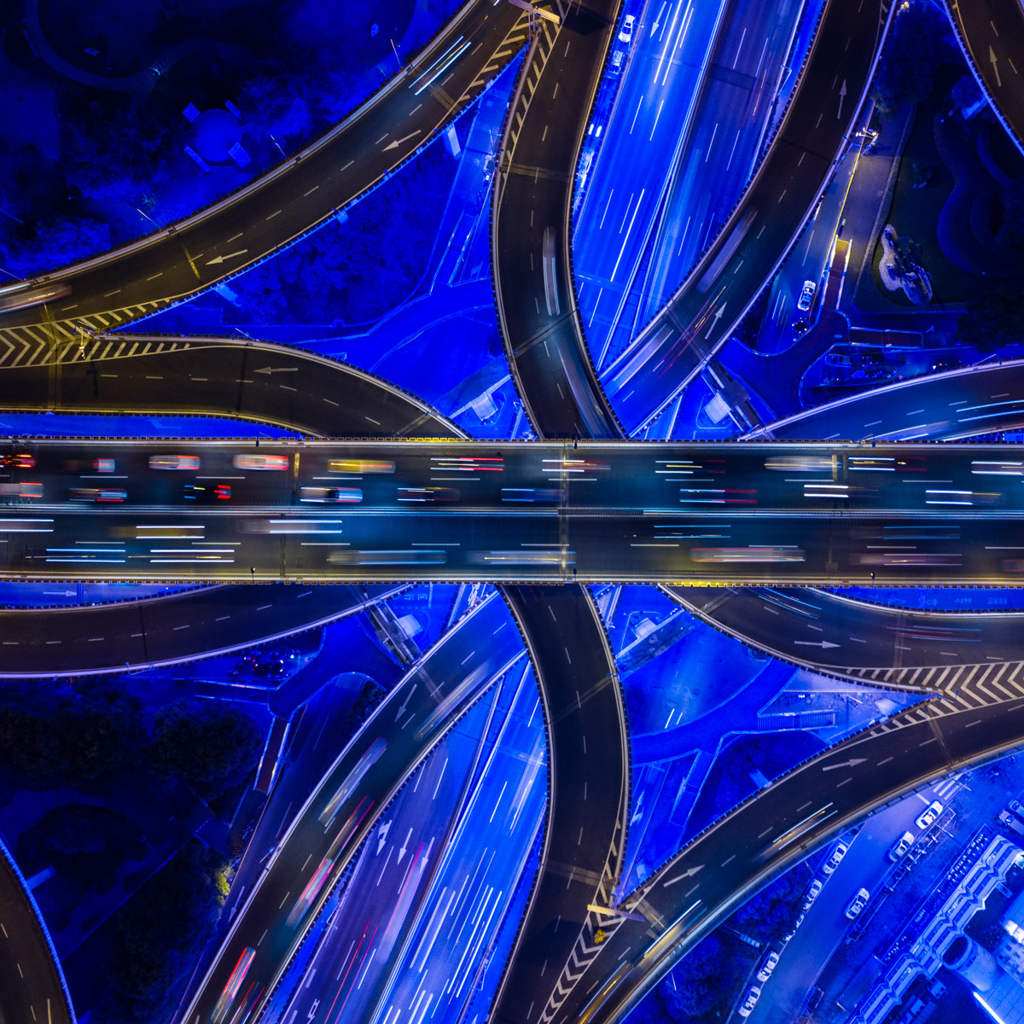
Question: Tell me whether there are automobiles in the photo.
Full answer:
Yes, the frame does contain an automobile.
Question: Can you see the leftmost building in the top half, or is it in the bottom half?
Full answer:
The leftmost building is in the top half of the image.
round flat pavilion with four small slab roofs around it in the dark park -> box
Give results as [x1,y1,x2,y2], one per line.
[179,96,250,169]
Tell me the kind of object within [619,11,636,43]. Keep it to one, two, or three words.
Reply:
car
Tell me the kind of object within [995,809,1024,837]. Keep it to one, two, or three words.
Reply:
vehicle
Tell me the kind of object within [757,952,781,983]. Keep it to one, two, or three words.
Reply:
car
